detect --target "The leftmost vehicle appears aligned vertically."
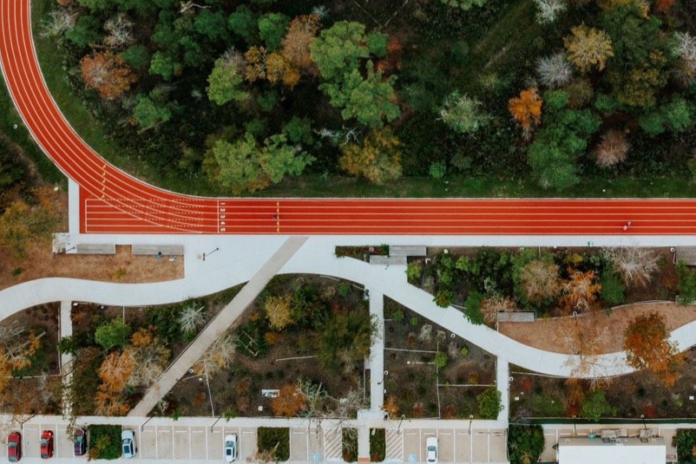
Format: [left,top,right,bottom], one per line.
[8,431,23,460]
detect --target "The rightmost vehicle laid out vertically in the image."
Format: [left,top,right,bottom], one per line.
[426,436,439,464]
